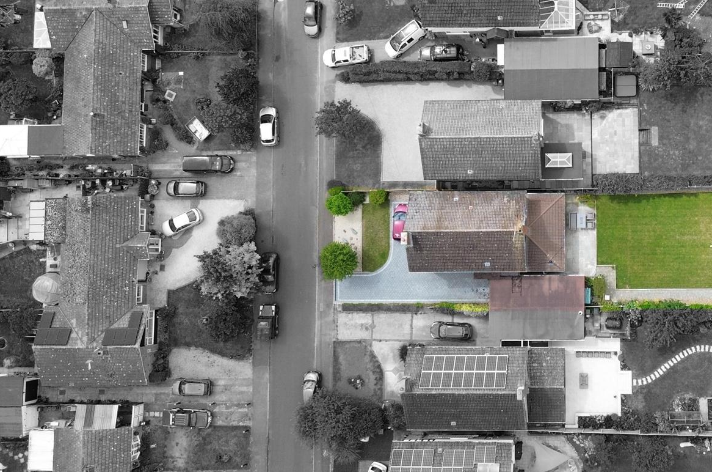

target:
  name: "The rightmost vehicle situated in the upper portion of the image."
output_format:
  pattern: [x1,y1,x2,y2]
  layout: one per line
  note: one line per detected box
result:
[420,41,465,63]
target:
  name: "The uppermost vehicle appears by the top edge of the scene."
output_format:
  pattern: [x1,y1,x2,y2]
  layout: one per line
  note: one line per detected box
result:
[302,0,324,38]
